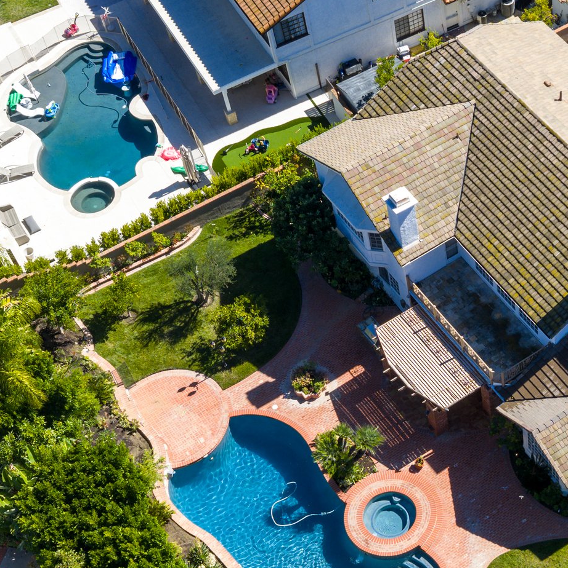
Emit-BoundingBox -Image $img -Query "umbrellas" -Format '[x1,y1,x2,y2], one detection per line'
[181,145,200,186]
[24,74,39,102]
